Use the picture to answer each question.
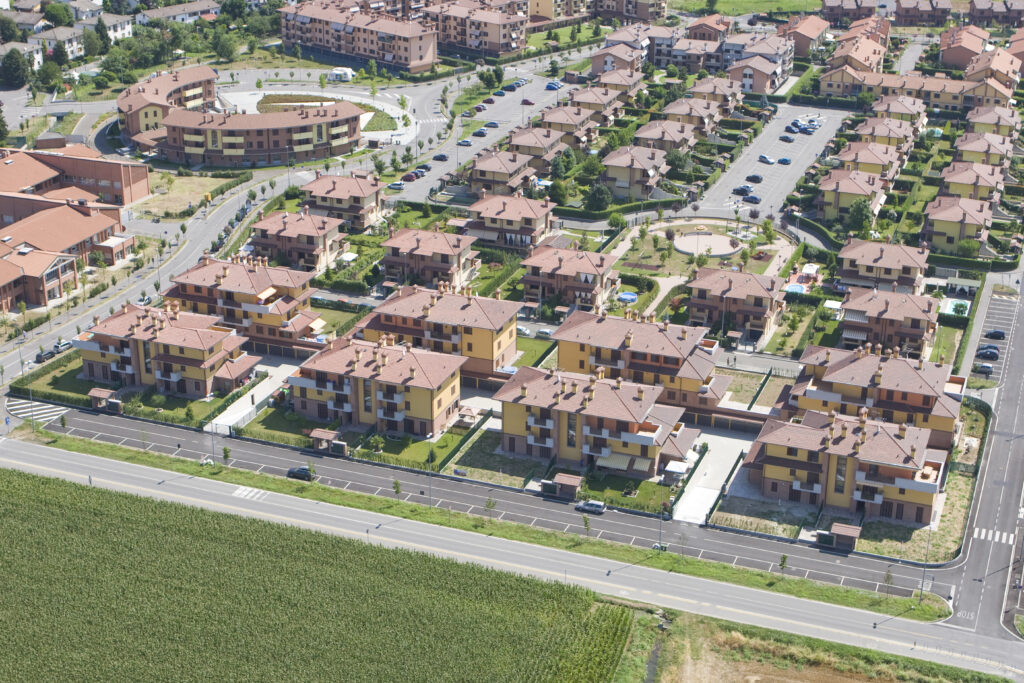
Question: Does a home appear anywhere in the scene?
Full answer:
Yes, you can see a home in this photo.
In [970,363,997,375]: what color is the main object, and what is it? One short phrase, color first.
gray vehicle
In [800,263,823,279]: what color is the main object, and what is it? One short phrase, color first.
white gazebo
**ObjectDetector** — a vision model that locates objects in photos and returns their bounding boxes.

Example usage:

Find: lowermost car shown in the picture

[574,501,607,516]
